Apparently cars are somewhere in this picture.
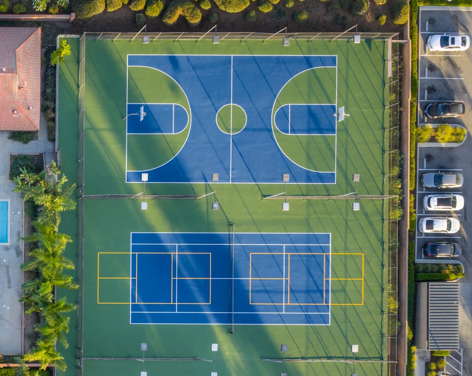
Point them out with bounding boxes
[421,192,463,212]
[425,31,469,52]
[419,170,463,190]
[422,99,465,119]
[416,215,459,235]
[422,239,462,259]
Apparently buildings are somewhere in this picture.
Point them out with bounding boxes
[407,282,458,351]
[0,27,40,131]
